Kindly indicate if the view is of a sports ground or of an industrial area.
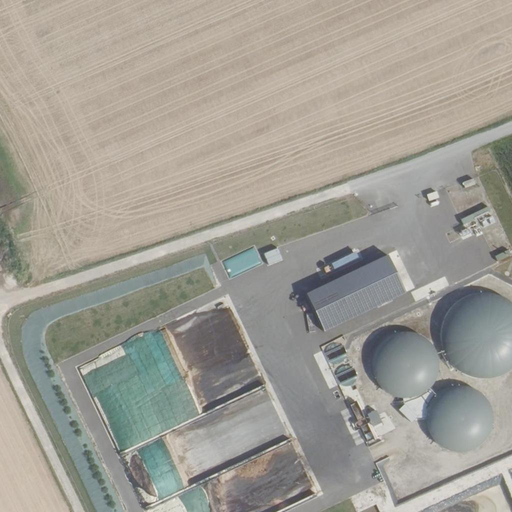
industrial area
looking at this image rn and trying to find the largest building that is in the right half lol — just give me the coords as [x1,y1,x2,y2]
[307,255,406,331]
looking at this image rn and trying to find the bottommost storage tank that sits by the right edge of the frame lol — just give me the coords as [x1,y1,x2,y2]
[426,385,494,453]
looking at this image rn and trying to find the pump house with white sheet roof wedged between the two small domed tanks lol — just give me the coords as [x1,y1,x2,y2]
[400,390,432,422]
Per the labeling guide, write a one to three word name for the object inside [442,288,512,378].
storage tank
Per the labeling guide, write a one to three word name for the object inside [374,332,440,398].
storage tank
